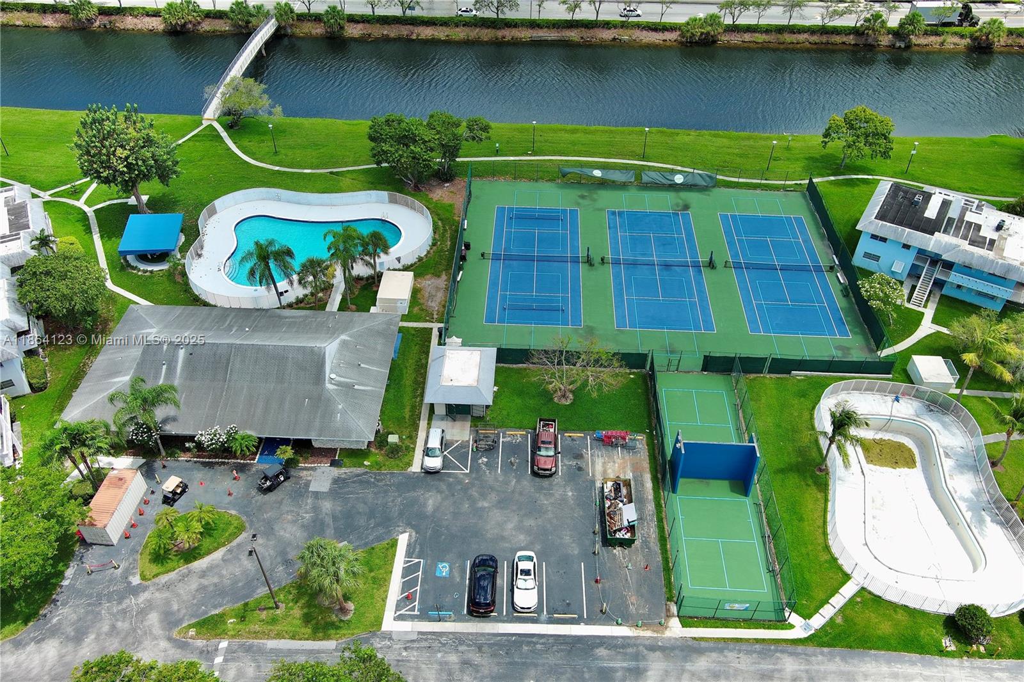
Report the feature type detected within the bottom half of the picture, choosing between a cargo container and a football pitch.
cargo container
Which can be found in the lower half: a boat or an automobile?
automobile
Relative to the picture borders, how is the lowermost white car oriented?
vertically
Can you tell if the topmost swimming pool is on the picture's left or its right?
left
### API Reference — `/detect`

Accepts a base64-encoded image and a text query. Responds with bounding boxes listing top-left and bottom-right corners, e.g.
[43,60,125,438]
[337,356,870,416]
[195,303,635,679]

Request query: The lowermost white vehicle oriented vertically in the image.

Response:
[511,550,539,607]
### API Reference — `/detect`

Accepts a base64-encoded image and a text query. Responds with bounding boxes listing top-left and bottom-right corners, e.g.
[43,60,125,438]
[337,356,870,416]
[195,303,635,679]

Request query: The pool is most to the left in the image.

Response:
[190,199,433,308]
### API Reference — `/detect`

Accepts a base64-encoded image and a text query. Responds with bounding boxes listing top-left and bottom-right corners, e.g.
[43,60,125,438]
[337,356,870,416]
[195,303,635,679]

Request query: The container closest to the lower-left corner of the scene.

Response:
[76,467,143,546]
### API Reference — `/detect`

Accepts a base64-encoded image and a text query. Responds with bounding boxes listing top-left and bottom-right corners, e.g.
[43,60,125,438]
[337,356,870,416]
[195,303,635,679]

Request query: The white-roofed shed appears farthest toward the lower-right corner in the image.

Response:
[906,355,964,398]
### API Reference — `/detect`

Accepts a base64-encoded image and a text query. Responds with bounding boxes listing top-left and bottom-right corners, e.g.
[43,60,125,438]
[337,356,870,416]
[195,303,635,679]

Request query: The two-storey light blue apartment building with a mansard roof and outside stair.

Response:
[851,179,1024,311]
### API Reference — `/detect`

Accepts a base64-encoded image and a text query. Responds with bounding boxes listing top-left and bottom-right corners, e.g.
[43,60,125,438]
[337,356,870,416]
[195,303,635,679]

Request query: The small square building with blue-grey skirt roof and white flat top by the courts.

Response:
[425,346,497,421]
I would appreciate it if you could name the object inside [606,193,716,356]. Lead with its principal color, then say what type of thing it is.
blue tennis court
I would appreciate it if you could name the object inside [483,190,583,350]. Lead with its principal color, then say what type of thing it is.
blue tennis court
